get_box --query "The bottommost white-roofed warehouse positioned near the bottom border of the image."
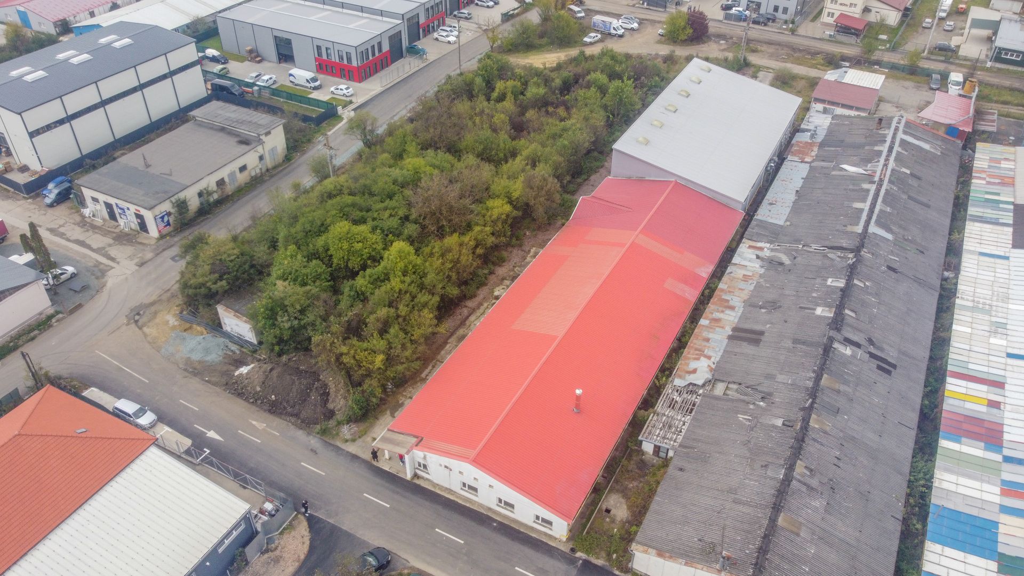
[0,447,255,576]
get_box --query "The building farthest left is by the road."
[0,252,54,338]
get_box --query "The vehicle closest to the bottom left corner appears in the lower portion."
[107,398,154,430]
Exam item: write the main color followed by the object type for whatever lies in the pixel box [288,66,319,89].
white vehicle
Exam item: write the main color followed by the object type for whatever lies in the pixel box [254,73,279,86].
white vehicle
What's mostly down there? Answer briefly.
buildings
